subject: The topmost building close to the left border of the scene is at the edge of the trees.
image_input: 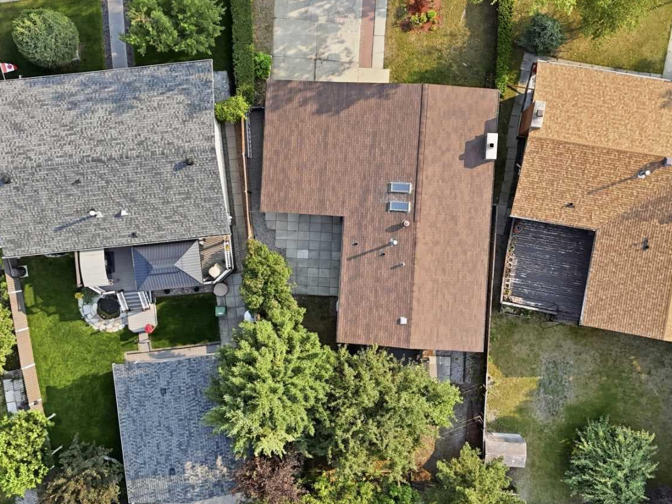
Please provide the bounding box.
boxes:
[0,59,233,258]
